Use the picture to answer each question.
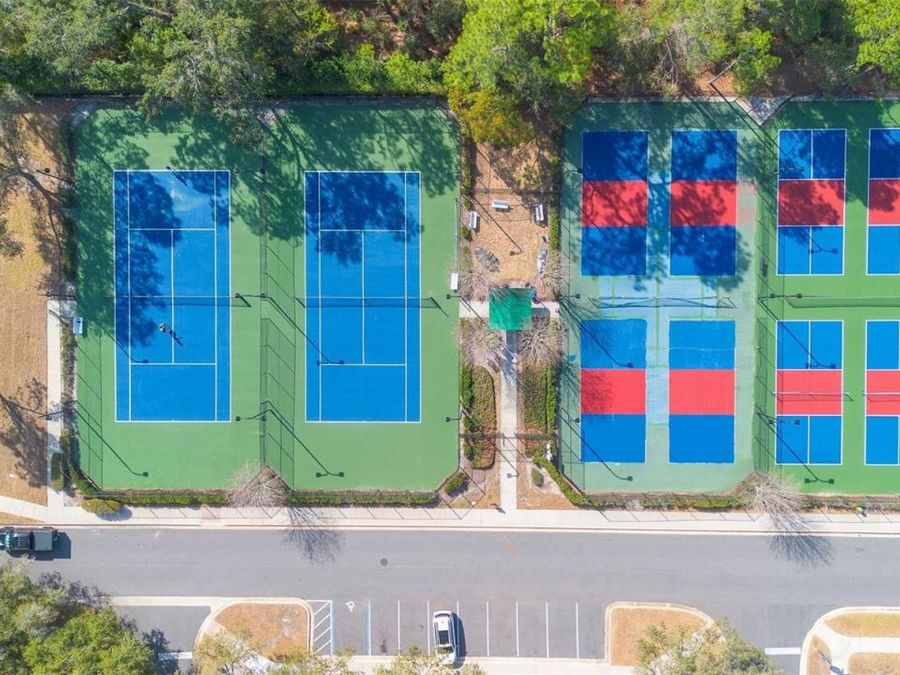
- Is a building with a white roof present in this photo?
No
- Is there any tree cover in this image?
Yes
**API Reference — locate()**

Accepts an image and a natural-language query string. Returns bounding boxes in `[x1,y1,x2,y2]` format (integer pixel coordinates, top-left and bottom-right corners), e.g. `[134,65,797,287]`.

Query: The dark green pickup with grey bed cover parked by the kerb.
[0,530,54,558]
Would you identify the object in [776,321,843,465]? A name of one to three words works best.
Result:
sports court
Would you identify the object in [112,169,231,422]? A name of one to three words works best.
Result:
tennis court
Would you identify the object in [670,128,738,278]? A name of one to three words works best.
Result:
sports court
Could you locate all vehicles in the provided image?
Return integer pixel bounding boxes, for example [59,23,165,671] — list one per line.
[0,530,54,558]
[434,612,460,667]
